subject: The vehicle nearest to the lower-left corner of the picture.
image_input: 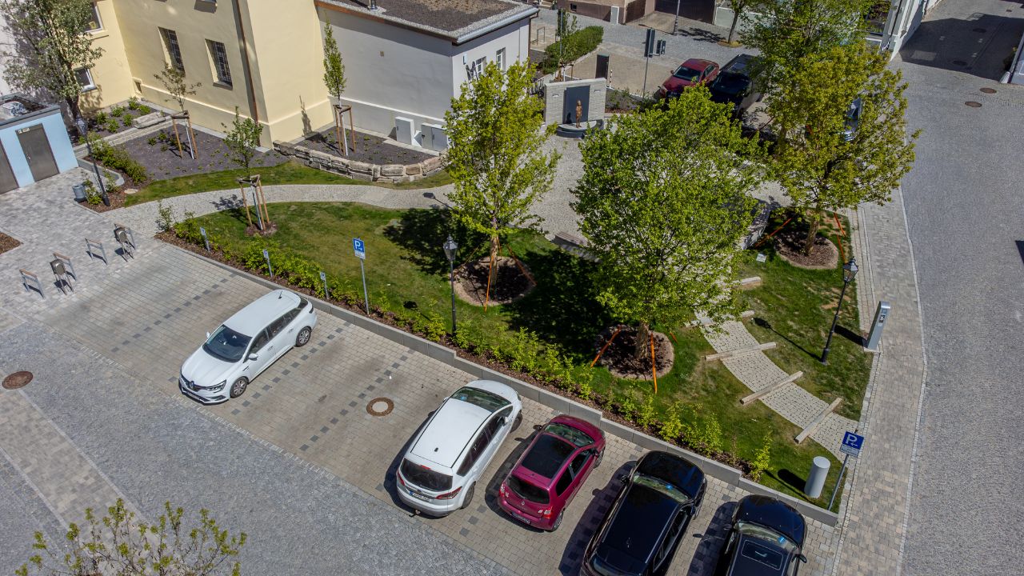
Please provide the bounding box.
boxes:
[177,293,317,404]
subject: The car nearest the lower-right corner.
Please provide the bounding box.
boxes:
[698,491,810,576]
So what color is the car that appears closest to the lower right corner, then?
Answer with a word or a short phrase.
black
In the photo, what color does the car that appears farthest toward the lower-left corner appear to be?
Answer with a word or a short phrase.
white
